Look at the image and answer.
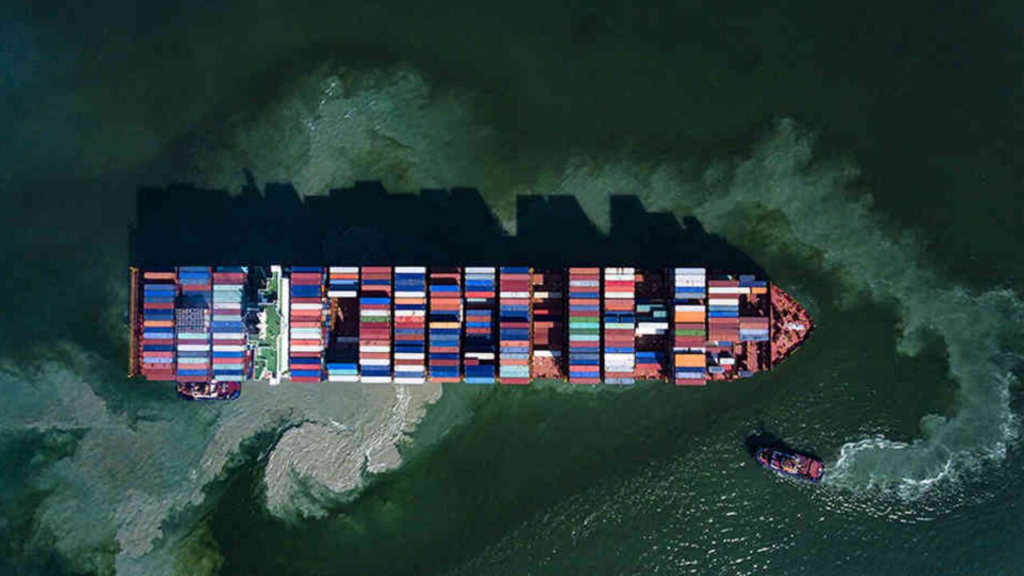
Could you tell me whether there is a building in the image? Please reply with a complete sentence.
No, I find no building anywhere in the image.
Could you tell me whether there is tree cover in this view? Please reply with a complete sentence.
No, no tree cover is visible.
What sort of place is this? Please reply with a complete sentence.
It's a port.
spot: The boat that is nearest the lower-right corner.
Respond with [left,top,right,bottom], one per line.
[756,448,828,485]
